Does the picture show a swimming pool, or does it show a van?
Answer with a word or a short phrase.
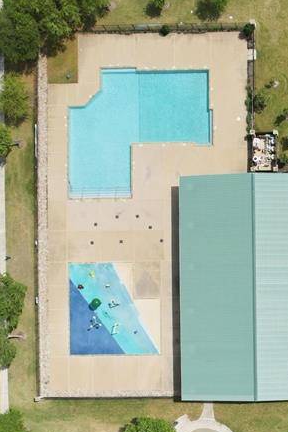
swimming pool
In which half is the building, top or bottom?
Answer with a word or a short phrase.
bottom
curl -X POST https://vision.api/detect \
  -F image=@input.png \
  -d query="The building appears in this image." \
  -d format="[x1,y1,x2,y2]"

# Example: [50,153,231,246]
[178,172,288,402]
